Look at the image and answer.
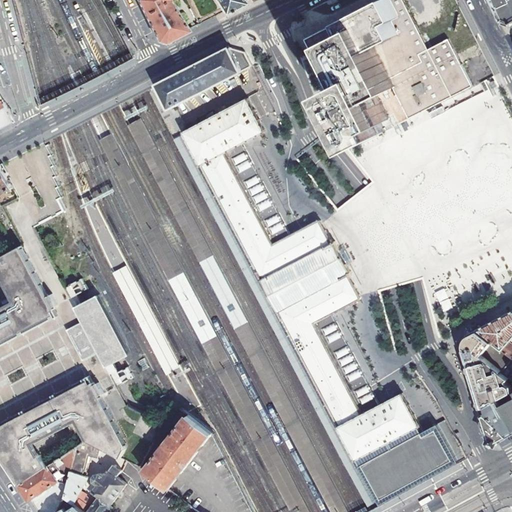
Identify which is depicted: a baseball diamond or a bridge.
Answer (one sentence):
It is a bridge that can be seen here.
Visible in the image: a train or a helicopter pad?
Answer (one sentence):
There is a train in the scene.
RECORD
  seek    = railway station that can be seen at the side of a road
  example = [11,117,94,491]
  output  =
[85,99,418,512]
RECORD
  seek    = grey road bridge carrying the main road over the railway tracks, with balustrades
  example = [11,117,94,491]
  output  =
[38,51,151,140]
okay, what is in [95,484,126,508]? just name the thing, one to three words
house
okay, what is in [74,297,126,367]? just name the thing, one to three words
building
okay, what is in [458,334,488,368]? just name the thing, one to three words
building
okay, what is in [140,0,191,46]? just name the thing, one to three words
house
